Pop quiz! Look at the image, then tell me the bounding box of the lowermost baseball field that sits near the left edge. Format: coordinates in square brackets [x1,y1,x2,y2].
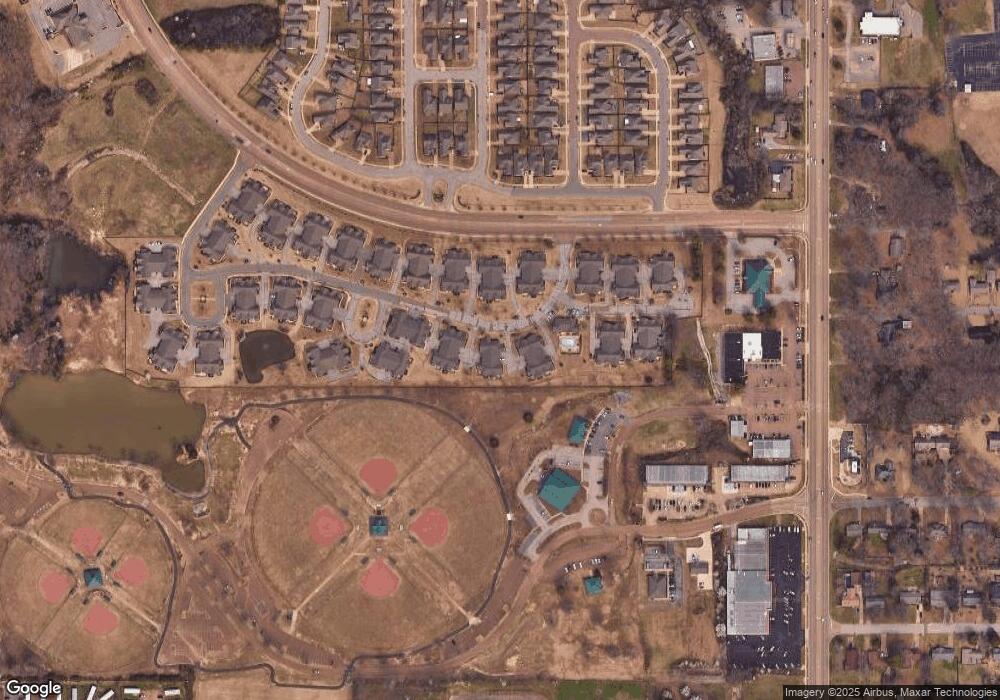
[44,595,146,669]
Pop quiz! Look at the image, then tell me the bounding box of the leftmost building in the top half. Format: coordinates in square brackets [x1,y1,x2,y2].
[50,4,91,46]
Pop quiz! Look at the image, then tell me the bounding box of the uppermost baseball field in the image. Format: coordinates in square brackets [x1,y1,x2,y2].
[306,399,450,504]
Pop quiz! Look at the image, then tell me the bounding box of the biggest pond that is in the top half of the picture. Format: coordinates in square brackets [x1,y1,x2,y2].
[48,232,125,294]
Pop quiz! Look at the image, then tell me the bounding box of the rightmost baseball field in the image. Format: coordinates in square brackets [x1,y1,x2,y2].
[400,457,506,596]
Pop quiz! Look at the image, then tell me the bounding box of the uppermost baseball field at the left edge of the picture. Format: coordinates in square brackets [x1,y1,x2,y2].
[42,504,127,564]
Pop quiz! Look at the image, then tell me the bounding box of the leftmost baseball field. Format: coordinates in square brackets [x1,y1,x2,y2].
[2,540,80,641]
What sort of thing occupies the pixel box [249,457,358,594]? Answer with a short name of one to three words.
baseball field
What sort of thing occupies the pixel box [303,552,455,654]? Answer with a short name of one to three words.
baseball field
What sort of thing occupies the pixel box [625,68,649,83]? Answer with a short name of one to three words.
house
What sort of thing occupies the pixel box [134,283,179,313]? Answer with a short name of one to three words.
building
